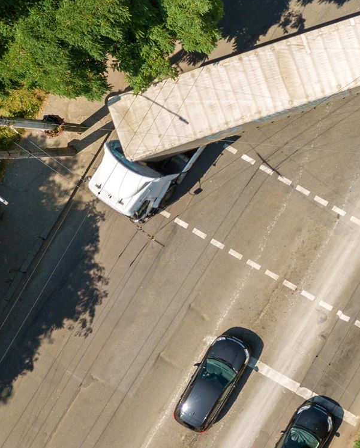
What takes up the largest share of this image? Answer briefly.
paved ground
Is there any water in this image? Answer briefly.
No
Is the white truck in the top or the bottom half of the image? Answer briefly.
top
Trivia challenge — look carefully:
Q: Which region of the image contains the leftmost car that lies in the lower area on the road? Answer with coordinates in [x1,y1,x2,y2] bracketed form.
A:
[176,333,253,432]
